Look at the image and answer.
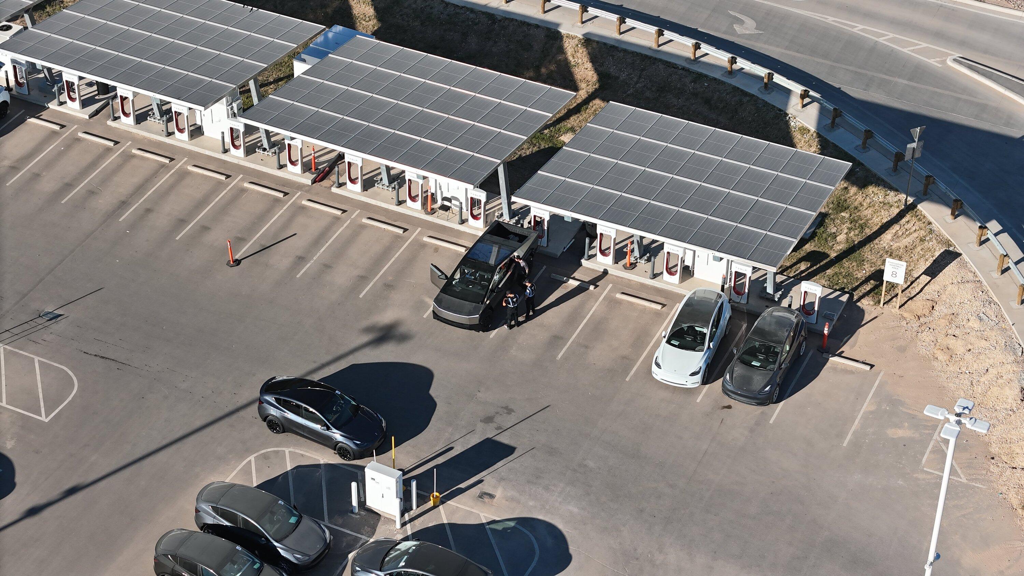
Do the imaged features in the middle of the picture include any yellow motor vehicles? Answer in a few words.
No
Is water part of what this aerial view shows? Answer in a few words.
No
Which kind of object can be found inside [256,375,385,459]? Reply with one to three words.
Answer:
car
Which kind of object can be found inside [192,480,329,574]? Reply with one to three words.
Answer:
car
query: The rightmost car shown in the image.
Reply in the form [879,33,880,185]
[723,312,809,410]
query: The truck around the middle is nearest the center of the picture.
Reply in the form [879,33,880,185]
[422,221,539,332]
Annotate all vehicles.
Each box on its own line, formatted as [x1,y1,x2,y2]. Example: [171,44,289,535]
[653,293,732,390]
[192,480,329,574]
[723,312,809,410]
[422,221,539,332]
[256,375,385,459]
[349,533,494,576]
[0,84,11,119]
[151,528,285,576]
